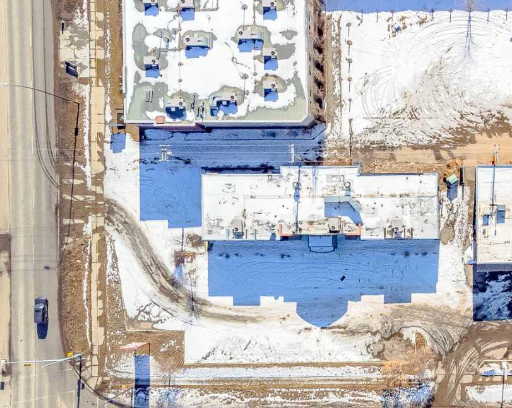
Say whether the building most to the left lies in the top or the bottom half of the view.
top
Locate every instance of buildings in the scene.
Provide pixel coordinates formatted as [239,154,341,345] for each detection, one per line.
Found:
[122,0,320,137]
[476,164,512,271]
[202,166,439,256]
